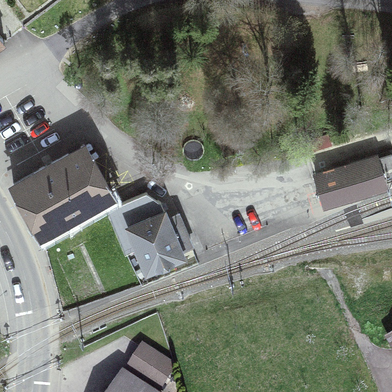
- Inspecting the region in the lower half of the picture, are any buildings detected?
Yes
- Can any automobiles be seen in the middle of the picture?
Yes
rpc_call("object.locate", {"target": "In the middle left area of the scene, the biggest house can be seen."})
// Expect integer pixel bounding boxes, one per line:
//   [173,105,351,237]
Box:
[9,142,122,252]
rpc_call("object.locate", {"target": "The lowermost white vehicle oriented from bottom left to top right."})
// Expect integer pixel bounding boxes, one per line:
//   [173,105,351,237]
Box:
[0,120,22,138]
